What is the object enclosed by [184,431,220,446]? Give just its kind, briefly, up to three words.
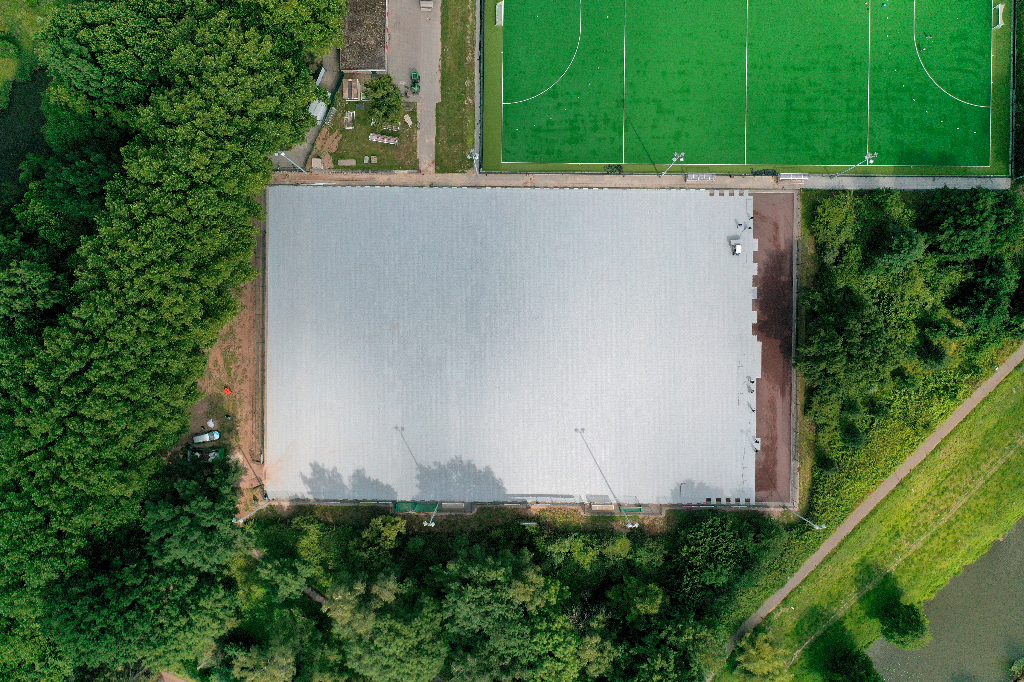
vehicle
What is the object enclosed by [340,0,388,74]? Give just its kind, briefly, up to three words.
building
